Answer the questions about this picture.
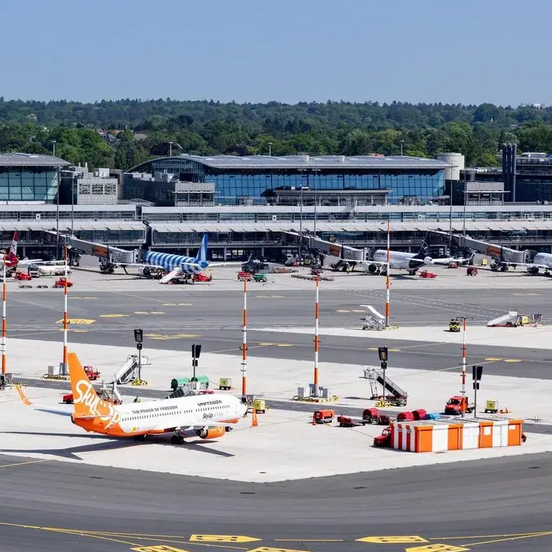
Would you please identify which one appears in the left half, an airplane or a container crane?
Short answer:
airplane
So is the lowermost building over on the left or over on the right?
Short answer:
right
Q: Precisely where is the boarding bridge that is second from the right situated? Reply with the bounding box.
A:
[278,229,379,267]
